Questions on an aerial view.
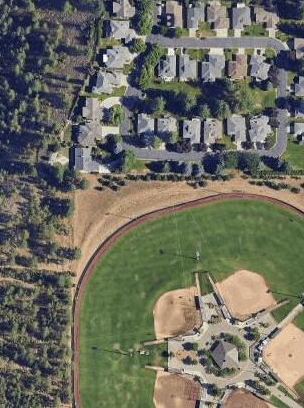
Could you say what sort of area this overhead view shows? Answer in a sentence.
This looks like a sports ground.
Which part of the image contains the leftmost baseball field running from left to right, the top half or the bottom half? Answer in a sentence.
The leftmost baseball field running from left to right is in the bottom half of the image.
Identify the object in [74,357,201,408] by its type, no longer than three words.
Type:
baseball field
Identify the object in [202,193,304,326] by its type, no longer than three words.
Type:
baseball field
